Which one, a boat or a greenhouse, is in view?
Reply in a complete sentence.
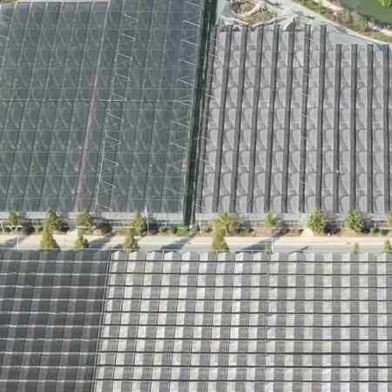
There is a greenhouse in the scene.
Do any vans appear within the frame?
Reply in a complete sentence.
No, I can't see a single van in this photo.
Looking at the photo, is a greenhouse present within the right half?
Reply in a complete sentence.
Yes, a greenhouse is visible within the right half.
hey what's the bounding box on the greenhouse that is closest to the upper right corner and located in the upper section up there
[192,24,392,230]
